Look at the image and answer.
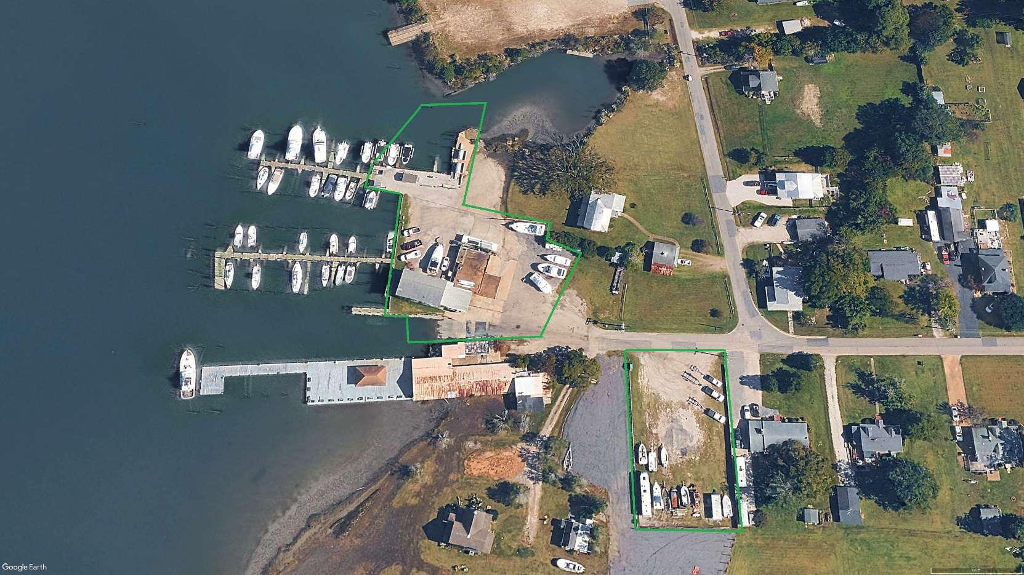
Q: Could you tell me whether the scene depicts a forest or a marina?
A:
marina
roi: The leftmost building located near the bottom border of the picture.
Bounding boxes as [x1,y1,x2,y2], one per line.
[447,511,494,555]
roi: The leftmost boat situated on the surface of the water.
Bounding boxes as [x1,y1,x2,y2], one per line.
[180,349,196,399]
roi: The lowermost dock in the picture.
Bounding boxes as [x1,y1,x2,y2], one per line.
[351,308,444,320]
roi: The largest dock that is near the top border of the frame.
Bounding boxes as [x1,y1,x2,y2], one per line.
[388,20,435,45]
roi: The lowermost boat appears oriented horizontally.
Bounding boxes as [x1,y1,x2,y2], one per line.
[556,559,585,572]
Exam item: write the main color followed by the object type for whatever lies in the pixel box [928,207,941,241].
white vehicle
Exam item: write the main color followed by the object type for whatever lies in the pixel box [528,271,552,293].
white boat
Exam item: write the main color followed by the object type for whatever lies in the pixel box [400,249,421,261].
white vehicle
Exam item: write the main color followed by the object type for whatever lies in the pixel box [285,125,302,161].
white boat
